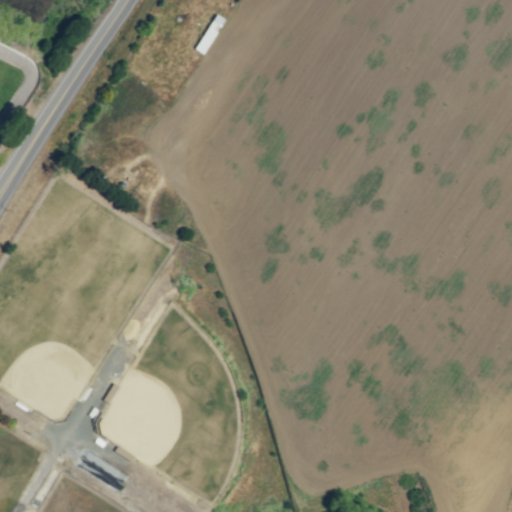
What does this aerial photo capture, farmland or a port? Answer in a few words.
farmland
